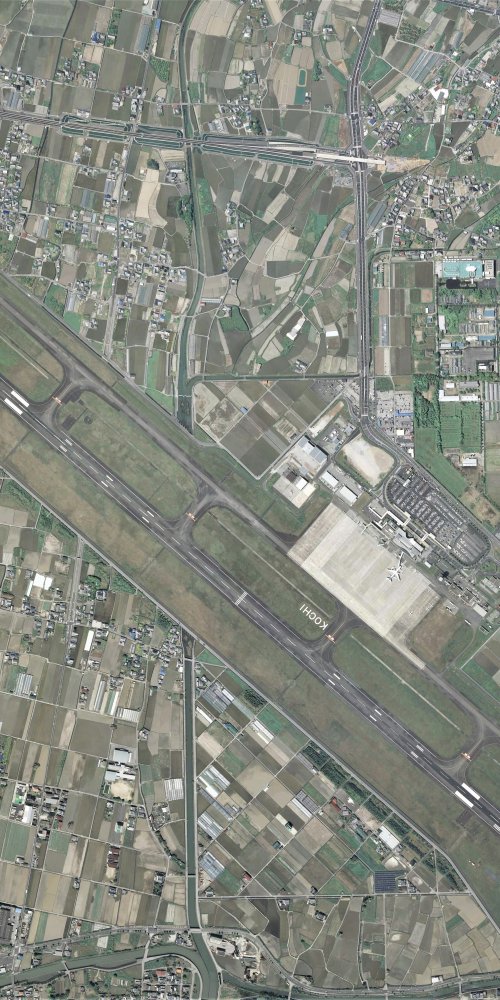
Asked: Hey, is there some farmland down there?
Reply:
Yes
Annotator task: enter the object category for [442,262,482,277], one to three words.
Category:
building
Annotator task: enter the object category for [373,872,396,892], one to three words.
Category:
solar array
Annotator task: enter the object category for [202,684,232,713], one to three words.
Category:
greenhouse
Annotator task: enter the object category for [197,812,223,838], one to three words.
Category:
greenhouse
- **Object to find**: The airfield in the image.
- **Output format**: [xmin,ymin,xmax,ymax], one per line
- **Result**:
[0,273,500,928]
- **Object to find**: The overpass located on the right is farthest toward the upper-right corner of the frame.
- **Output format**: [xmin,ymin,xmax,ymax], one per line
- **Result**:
[268,145,388,164]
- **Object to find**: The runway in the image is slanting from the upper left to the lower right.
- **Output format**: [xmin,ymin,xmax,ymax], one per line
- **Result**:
[0,378,500,835]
